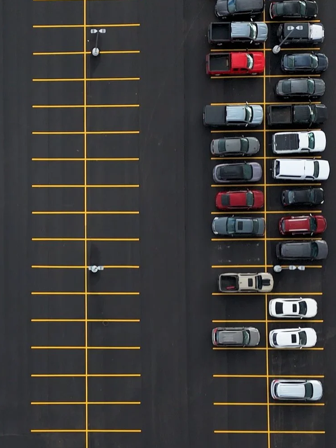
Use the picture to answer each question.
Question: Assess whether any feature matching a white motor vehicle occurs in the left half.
No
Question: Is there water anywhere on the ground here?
No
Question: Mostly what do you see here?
paved ground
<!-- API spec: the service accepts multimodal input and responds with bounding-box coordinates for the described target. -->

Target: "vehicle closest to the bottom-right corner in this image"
[270,380,322,402]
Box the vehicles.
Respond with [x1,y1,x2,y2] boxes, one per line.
[267,101,327,127]
[271,129,327,153]
[270,380,322,402]
[268,297,316,319]
[211,327,259,349]
[217,271,273,295]
[268,327,316,349]
[212,161,262,183]
[214,189,264,210]
[210,135,259,156]
[275,239,327,262]
[276,21,325,44]
[275,76,324,99]
[268,0,317,21]
[280,186,323,208]
[205,50,266,75]
[206,20,268,45]
[277,214,326,236]
[271,156,331,181]
[214,0,265,20]
[211,216,266,237]
[202,102,264,127]
[280,51,327,73]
